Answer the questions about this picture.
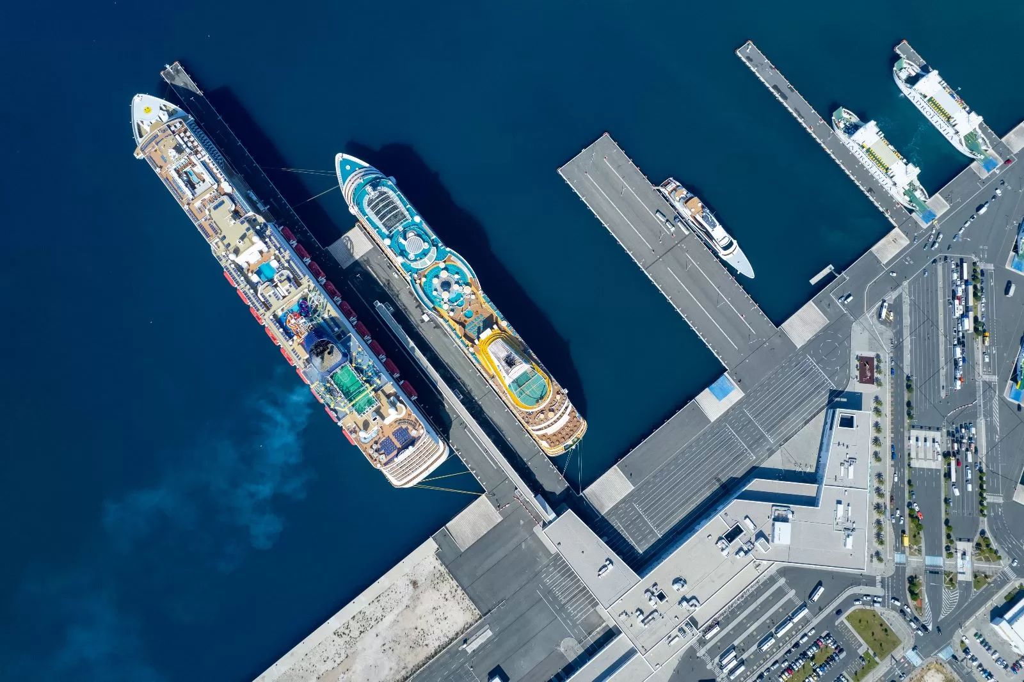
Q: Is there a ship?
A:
Yes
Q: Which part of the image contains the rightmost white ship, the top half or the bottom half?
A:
top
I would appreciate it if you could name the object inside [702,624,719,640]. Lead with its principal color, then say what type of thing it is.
white vehicle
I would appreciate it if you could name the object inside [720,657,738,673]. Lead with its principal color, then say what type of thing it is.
white vehicle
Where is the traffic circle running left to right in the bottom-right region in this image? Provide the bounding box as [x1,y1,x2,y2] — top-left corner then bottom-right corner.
[907,656,964,682]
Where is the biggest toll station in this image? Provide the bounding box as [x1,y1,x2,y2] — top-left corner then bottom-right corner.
[907,431,938,468]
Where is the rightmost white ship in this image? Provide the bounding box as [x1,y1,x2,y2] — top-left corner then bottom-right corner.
[891,55,998,173]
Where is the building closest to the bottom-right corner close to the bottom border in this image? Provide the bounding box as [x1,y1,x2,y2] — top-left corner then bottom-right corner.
[985,587,1024,663]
